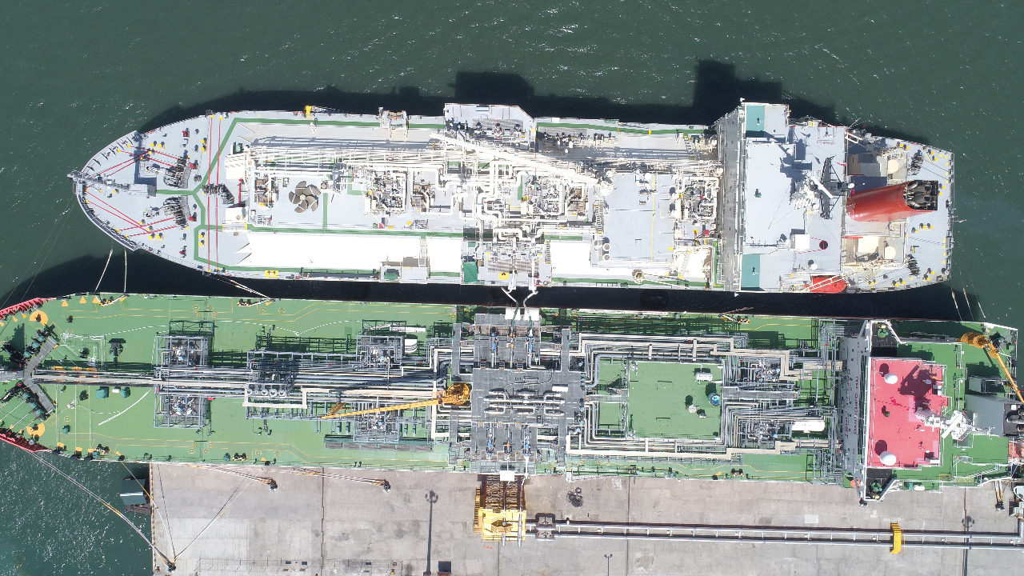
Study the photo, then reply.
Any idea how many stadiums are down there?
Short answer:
0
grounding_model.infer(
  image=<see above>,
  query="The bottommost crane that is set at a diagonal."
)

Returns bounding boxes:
[940,331,1024,401]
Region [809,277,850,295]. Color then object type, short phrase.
red boat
